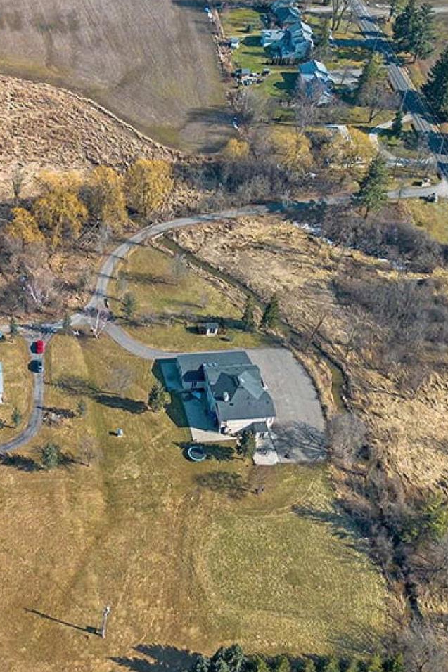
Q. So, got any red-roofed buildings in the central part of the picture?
No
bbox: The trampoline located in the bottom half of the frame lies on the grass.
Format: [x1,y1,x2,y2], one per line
[188,445,206,459]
